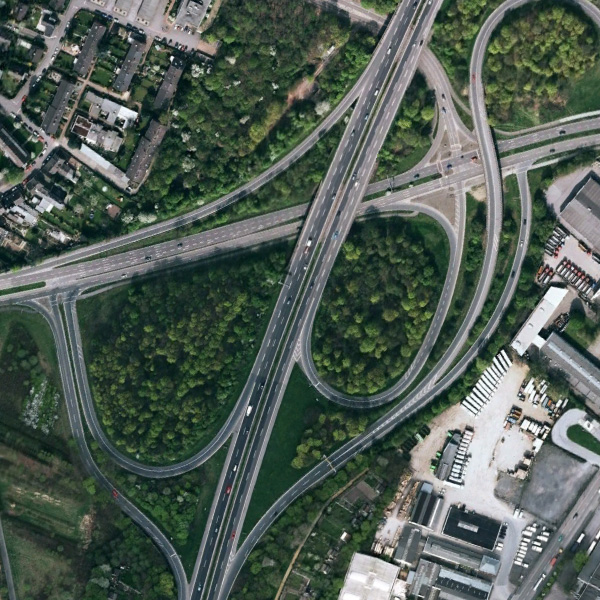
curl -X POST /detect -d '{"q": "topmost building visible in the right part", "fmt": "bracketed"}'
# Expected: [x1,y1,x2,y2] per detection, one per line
[560,176,600,251]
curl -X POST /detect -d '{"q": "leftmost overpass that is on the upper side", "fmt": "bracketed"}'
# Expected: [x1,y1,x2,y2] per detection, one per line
[303,161,369,249]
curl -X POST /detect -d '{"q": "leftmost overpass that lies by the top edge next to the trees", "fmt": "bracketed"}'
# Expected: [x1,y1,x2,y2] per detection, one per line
[373,0,437,70]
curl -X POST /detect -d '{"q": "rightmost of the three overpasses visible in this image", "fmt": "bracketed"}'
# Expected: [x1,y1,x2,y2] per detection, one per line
[471,100,504,226]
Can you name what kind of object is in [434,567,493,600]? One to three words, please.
shed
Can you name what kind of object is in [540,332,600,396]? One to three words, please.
shed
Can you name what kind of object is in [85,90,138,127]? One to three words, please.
building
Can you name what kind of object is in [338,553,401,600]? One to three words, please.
building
